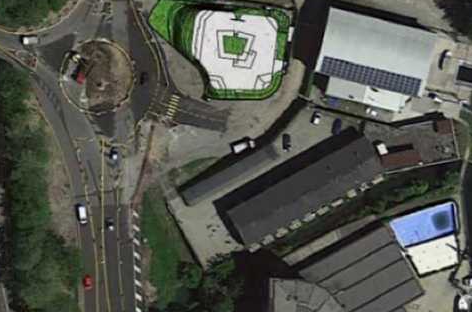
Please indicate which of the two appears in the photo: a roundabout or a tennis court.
roundabout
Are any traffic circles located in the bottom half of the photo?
No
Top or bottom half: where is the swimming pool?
bottom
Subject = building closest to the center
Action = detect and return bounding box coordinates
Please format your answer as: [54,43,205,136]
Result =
[182,146,279,204]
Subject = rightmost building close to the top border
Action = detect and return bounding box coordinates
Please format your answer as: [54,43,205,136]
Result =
[315,7,438,96]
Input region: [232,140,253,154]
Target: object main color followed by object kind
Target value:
white vehicle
